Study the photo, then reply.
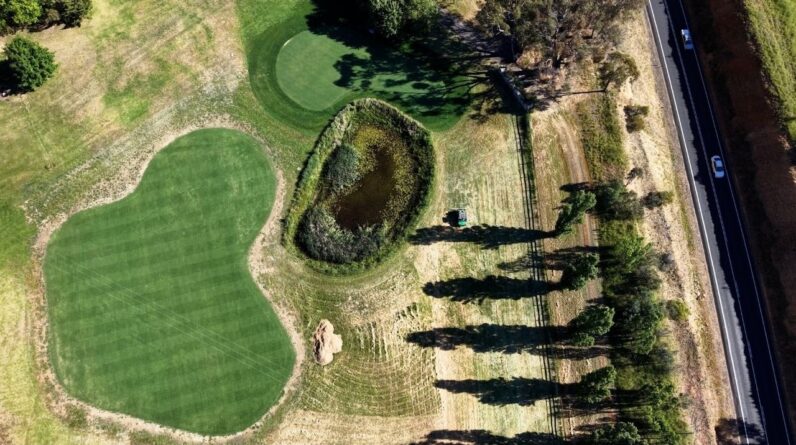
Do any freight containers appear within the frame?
No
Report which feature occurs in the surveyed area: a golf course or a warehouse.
golf course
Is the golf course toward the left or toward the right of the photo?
left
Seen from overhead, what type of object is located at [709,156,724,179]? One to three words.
car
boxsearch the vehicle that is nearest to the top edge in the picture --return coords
[680,30,693,49]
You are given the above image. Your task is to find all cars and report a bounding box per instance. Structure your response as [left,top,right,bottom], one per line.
[680,30,693,49]
[709,156,724,179]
